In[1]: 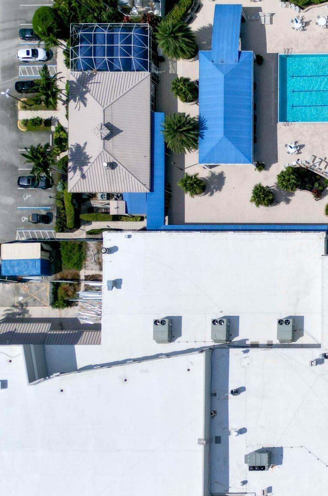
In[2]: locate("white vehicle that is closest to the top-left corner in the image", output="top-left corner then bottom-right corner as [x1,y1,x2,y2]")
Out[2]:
[13,45,46,62]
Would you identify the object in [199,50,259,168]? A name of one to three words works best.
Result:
building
